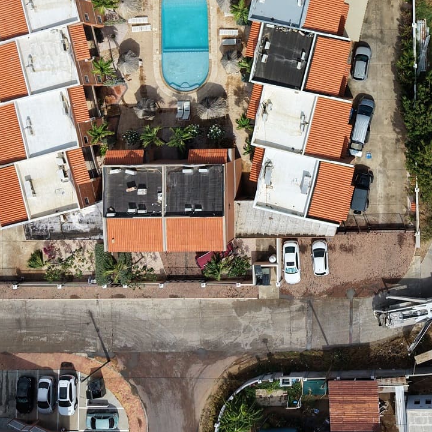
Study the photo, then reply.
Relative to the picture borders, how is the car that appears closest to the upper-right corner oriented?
up and down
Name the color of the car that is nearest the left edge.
black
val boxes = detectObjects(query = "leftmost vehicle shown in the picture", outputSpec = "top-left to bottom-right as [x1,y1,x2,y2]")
[14,374,36,413]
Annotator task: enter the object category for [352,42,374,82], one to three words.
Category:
car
